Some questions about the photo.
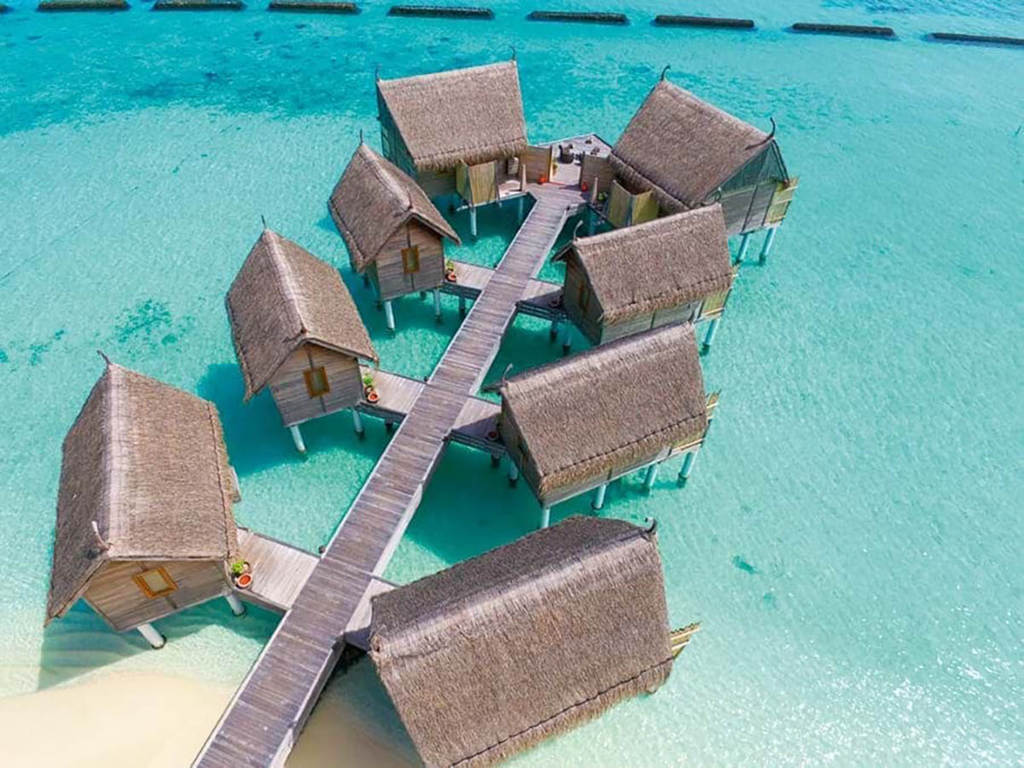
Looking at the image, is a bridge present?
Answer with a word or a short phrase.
Yes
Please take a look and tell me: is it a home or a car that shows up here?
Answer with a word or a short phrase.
home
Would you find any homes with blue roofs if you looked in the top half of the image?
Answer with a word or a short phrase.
No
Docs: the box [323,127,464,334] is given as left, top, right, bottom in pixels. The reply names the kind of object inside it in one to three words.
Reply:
house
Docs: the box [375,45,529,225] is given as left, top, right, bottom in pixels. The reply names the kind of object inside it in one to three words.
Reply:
house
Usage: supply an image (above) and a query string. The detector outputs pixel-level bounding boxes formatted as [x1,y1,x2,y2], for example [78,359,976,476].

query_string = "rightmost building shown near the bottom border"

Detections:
[368,515,688,768]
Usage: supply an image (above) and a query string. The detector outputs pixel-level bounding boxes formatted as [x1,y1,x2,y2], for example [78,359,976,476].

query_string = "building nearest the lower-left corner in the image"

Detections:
[39,347,246,650]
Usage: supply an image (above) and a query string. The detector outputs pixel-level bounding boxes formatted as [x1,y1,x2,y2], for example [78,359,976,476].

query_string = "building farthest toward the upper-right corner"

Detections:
[607,64,794,260]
